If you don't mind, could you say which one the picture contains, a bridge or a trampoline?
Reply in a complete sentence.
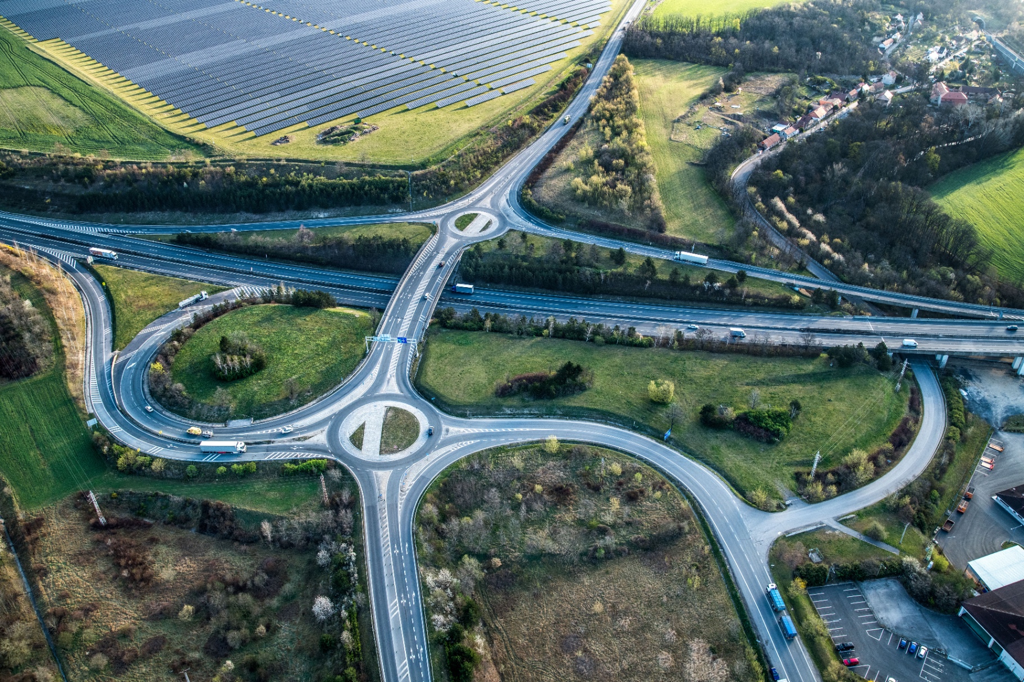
Visible in the photo is a bridge.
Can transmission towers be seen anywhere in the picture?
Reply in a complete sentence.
Yes, the frame does contain a transmission tower.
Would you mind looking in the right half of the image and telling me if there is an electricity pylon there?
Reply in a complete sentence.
Yes, an electricity pylon shows up in the right half of the image.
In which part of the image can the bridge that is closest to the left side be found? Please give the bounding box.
[375,231,466,334]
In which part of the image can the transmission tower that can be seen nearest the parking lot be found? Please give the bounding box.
[808,451,824,478]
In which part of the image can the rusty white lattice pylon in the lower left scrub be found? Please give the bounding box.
[83,491,106,527]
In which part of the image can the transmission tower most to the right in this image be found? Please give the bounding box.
[894,360,912,393]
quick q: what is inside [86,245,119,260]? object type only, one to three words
vehicle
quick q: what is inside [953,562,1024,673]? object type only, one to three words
building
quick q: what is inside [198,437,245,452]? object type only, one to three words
vehicle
